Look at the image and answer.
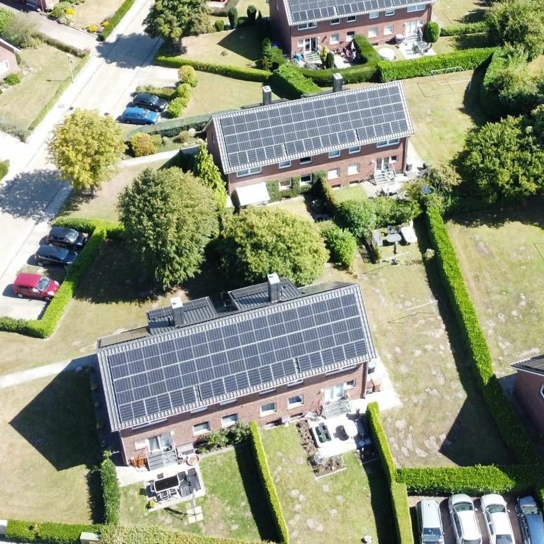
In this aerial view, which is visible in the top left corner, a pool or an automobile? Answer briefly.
automobile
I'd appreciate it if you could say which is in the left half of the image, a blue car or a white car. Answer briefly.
blue car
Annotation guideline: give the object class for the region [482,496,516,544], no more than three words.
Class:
car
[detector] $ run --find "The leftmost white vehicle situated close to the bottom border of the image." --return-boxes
[414,494,451,544]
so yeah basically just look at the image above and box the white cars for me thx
[482,496,516,544]
[414,494,451,544]
[450,496,483,544]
